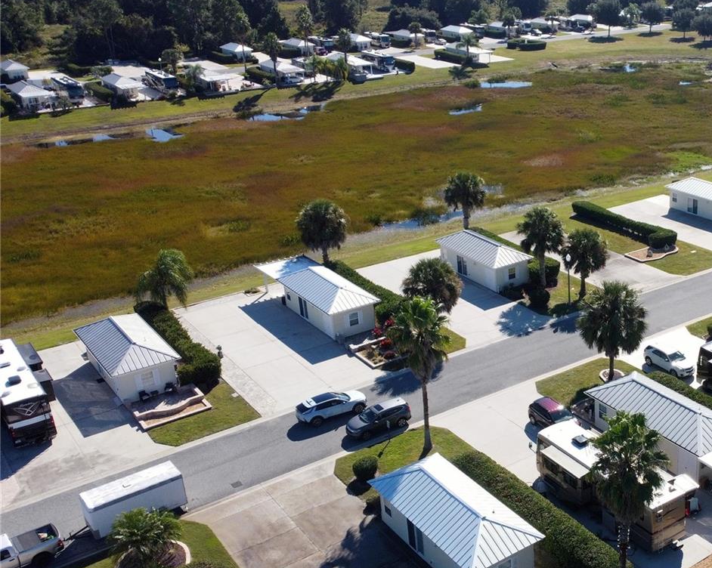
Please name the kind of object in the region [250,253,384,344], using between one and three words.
house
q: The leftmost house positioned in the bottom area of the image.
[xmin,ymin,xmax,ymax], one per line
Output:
[71,313,182,405]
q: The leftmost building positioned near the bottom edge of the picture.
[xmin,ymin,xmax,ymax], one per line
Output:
[367,453,549,568]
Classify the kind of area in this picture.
residential area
